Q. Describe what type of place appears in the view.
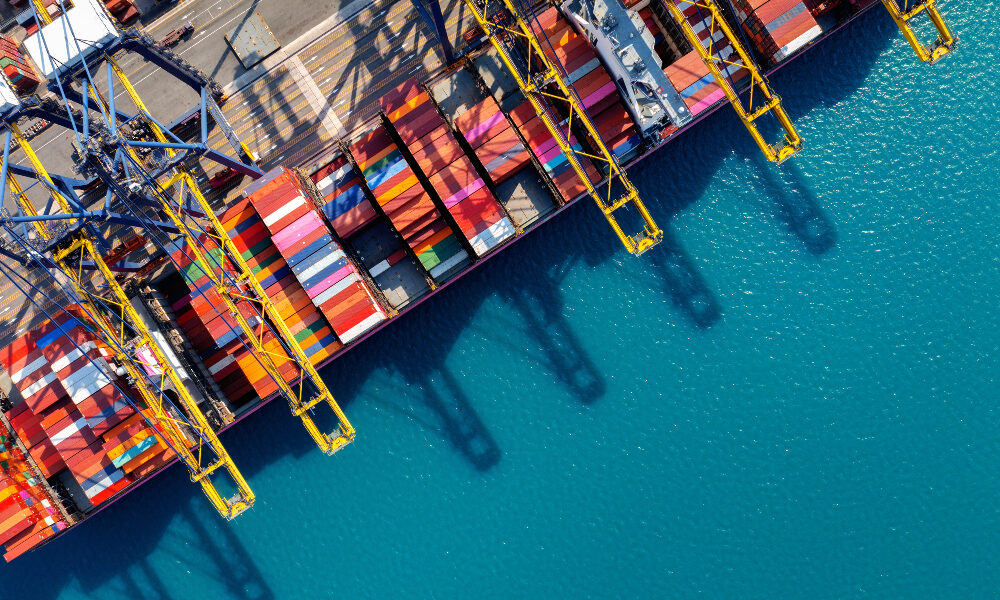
port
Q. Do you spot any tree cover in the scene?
No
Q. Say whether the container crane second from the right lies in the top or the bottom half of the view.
top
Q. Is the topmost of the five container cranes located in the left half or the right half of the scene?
right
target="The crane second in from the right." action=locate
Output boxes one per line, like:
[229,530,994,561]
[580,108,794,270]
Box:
[670,0,808,163]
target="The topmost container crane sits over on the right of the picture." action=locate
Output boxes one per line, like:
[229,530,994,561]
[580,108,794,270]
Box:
[876,0,953,69]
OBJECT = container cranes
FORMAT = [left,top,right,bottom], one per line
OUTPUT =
[398,0,664,256]
[670,0,808,163]
[2,0,354,457]
[0,77,255,523]
[876,0,953,69]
